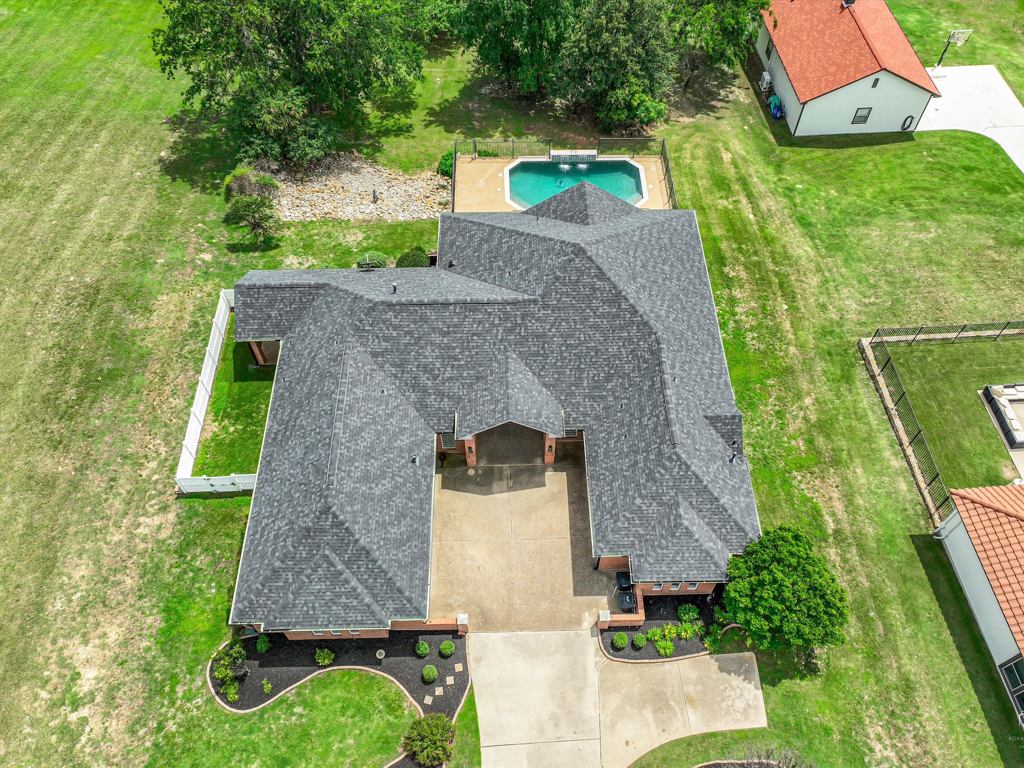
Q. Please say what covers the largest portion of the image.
grass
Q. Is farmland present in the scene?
No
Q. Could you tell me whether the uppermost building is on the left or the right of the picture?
right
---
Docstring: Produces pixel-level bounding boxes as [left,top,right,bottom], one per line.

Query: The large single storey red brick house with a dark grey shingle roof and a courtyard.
[229,180,764,641]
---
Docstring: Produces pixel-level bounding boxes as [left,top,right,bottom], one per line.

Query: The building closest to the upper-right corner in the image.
[757,0,939,137]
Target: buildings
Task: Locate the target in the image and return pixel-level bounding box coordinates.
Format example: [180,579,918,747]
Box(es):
[757,0,939,137]
[229,180,764,641]
[935,480,1024,729]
